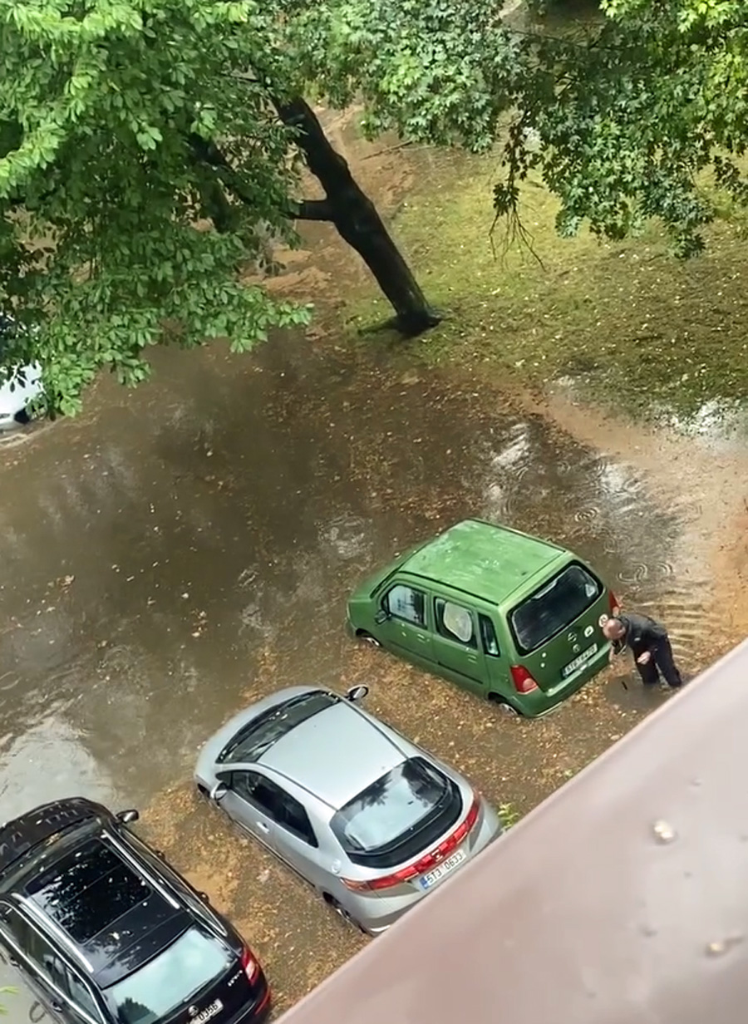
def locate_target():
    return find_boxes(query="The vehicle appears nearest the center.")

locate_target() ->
[352,520,612,713]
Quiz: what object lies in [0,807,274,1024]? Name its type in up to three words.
car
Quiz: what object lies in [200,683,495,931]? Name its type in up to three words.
car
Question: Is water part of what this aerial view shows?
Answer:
Yes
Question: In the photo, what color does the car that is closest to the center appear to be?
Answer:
green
